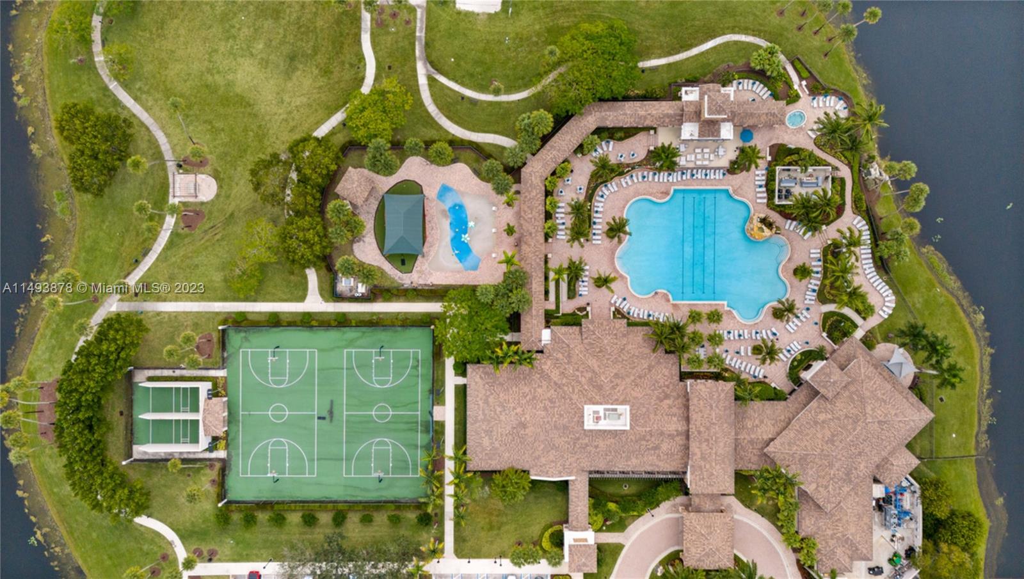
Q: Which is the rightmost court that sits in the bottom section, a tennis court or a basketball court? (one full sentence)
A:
It turns out the rightmost court that sits in the bottom section is a basketball court.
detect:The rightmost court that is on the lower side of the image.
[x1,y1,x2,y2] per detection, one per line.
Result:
[331,328,434,502]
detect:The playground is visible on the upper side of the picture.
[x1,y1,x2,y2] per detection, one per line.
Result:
[373,178,427,275]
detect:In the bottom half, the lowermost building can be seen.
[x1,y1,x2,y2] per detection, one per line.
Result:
[562,524,597,573]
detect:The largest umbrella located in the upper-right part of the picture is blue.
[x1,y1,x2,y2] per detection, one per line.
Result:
[739,130,752,142]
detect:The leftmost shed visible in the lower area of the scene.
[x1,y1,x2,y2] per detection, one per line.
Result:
[204,397,230,438]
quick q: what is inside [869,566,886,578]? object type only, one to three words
vehicle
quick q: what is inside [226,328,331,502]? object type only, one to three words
basketball court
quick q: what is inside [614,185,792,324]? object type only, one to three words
swimming pool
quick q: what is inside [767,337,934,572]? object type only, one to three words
building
